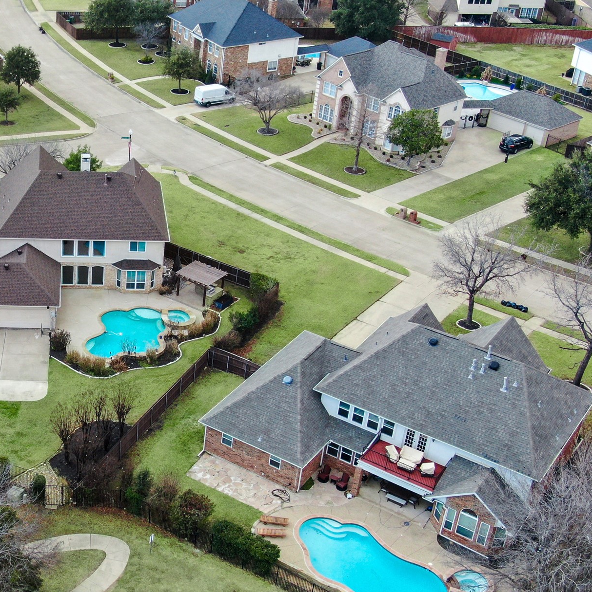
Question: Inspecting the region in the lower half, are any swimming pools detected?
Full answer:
Yes, there is a swimming pool in the lower half.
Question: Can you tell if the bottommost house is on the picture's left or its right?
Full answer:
The bottommost house is on the right side of the image.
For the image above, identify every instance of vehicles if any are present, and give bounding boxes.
[194,77,240,105]
[501,129,537,151]
[449,16,479,28]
